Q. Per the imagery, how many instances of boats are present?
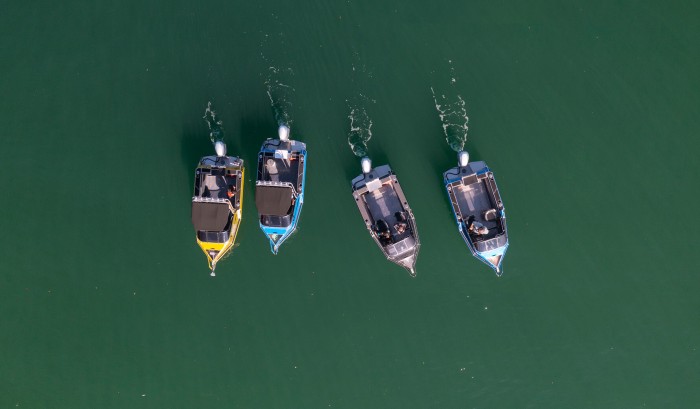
four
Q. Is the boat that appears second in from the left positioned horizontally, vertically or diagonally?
vertically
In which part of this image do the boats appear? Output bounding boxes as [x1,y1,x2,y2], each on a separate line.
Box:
[444,150,509,276]
[191,140,245,275]
[351,155,418,277]
[254,122,306,256]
